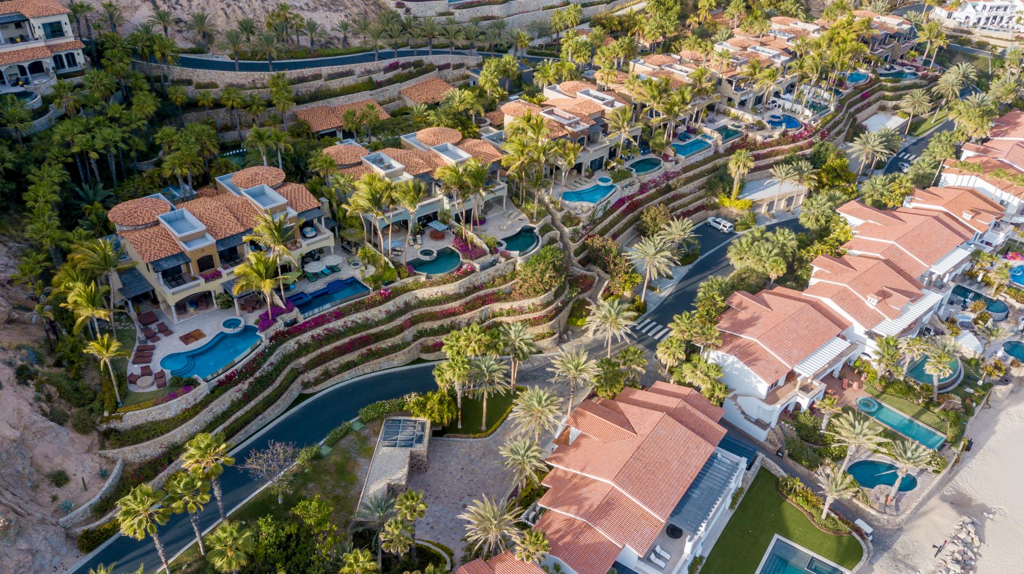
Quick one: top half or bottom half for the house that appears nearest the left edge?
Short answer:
top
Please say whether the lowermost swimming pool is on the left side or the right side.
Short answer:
right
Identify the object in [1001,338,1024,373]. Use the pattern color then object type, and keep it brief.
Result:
blue swimming pool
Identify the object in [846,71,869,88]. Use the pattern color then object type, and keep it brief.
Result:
blue swimming pool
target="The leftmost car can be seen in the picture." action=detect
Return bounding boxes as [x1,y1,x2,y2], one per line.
[707,215,737,232]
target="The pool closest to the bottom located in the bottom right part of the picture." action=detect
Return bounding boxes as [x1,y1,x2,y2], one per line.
[747,533,852,574]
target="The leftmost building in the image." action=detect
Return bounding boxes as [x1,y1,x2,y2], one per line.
[0,6,87,79]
